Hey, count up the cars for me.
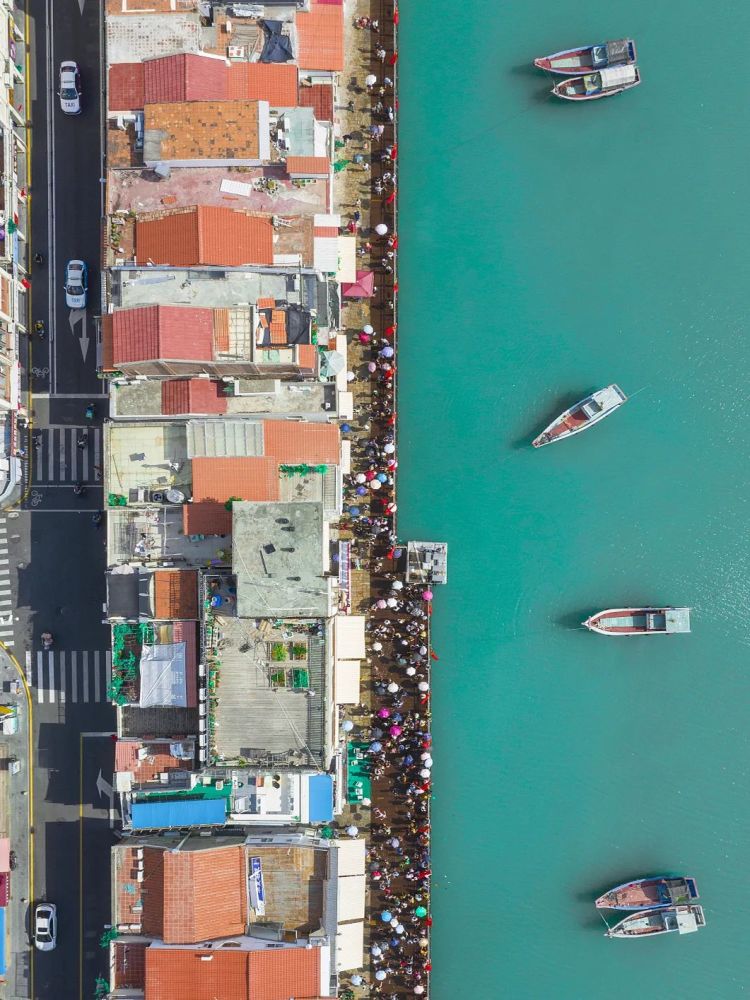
3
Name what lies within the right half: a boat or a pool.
boat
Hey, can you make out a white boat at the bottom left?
No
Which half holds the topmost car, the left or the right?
left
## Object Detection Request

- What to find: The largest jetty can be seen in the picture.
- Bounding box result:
[406,541,448,585]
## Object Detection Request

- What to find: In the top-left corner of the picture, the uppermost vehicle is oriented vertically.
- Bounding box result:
[58,62,85,117]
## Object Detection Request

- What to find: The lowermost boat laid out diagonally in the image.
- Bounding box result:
[530,383,629,446]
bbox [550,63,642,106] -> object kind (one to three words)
boat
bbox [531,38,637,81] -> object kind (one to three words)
boat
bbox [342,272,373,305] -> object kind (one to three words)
tent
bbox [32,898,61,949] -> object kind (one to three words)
car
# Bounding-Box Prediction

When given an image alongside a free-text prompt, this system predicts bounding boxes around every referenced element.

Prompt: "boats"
[550,63,642,106]
[593,869,698,909]
[530,383,629,446]
[602,899,705,939]
[531,38,637,81]
[580,604,691,635]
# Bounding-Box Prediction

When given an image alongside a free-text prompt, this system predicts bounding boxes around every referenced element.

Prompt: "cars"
[32,898,61,949]
[58,62,85,117]
[63,260,91,311]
